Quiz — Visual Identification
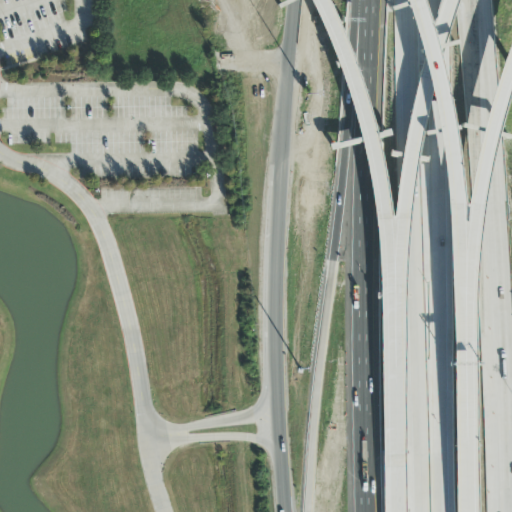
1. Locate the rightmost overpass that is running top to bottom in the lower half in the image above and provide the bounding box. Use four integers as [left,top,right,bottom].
[450,212,488,512]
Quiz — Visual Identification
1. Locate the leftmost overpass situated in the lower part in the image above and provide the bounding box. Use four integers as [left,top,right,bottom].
[376,214,413,512]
